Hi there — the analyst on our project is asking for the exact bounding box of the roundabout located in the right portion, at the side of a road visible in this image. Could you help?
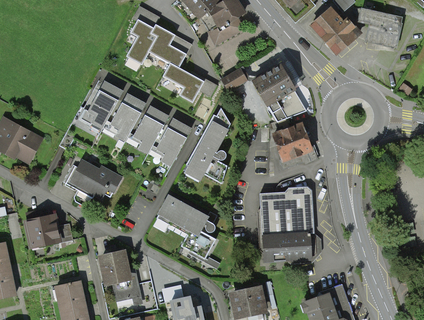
[322,81,391,150]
